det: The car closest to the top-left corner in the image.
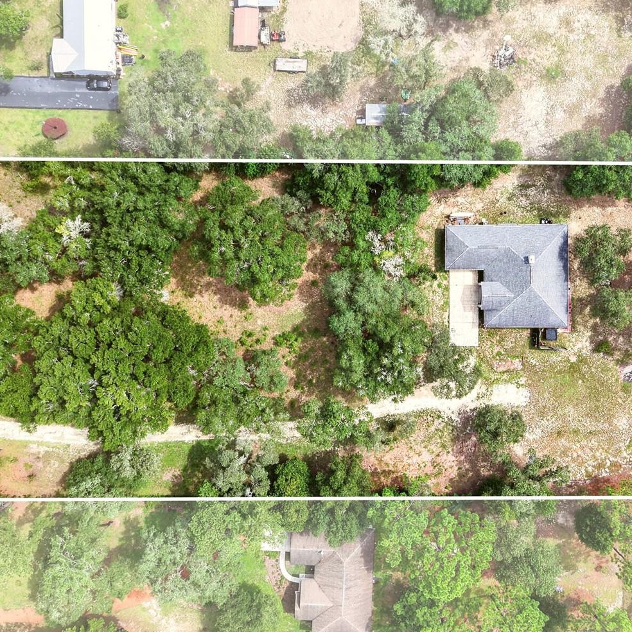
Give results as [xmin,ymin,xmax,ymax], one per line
[84,77,110,90]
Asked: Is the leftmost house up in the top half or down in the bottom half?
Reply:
top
